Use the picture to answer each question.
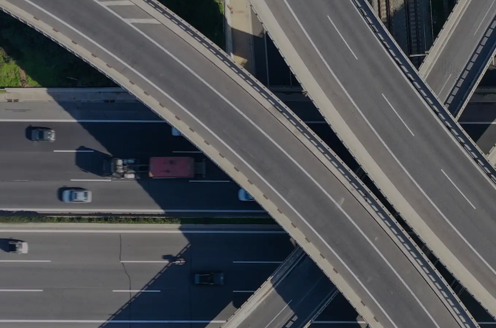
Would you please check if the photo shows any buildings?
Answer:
No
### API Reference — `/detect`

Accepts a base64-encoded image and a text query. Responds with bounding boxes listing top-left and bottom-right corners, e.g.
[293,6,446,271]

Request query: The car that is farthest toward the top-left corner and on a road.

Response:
[31,128,57,143]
